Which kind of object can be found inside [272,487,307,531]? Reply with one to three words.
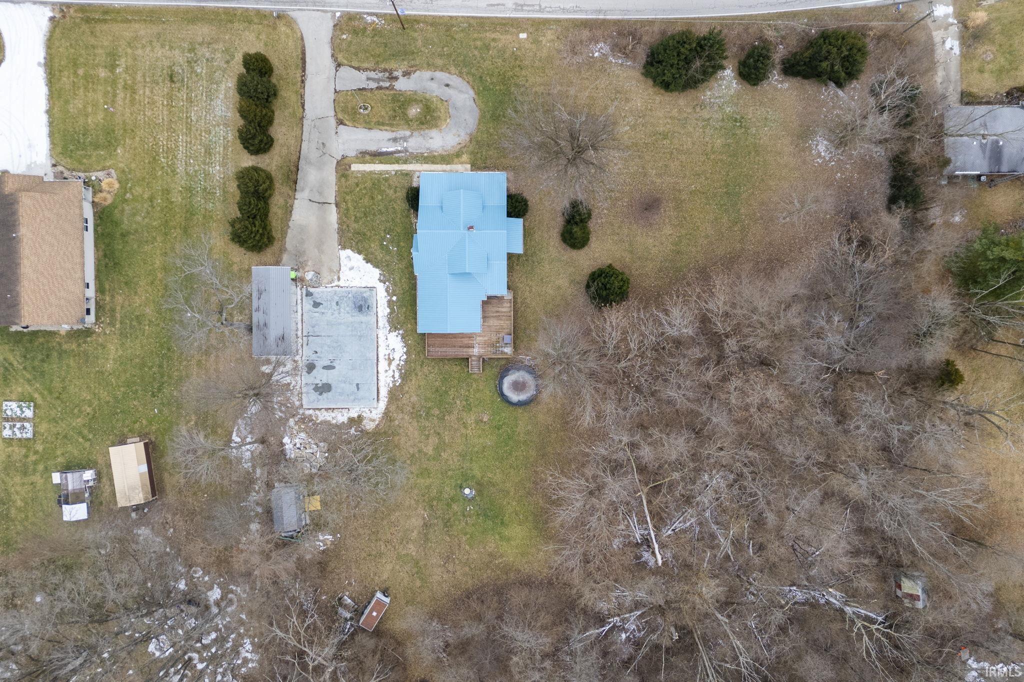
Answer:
shed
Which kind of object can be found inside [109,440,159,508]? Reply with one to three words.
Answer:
shed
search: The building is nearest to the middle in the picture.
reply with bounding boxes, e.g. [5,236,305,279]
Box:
[412,171,524,333]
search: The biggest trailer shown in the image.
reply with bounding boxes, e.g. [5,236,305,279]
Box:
[359,584,394,632]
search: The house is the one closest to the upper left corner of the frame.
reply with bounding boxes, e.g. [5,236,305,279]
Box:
[0,173,95,325]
